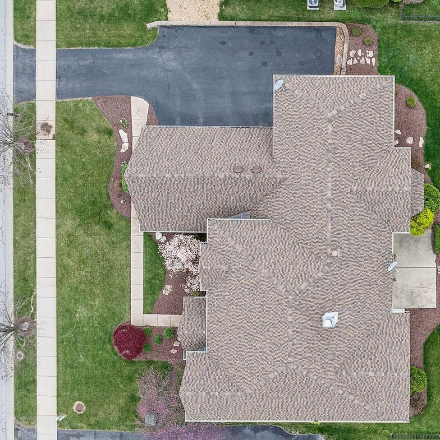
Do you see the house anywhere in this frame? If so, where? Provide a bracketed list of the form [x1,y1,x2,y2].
[125,74,424,423]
